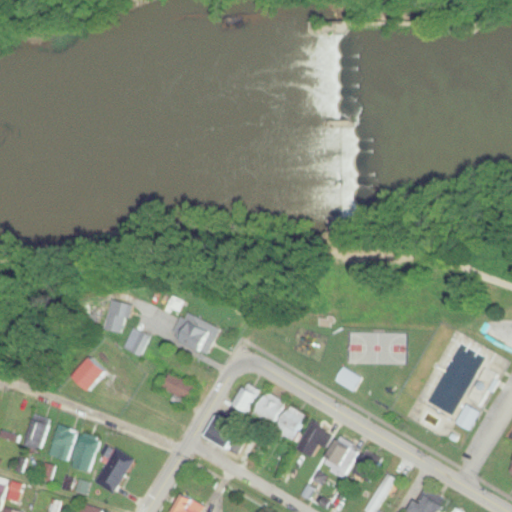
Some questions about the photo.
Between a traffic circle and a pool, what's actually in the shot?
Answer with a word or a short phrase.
pool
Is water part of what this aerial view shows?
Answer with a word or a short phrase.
Yes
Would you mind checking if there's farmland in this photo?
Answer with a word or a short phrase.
No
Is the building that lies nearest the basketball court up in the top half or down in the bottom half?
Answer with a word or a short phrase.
bottom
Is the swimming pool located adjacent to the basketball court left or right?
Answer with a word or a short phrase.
right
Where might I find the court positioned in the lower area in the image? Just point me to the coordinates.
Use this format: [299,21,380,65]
[348,332,408,366]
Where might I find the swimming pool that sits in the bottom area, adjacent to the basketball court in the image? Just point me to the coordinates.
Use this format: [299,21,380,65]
[410,332,512,438]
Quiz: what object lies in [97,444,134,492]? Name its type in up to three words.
house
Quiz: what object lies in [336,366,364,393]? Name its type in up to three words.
building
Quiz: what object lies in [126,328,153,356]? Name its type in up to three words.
building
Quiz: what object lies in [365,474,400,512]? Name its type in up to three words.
house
